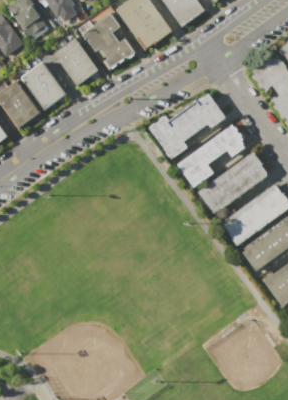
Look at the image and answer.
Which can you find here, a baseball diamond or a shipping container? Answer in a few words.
baseball diamond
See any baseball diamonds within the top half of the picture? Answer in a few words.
No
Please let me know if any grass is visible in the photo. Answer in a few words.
Yes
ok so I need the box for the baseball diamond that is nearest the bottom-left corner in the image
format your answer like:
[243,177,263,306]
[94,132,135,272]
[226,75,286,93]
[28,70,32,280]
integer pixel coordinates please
[26,322,146,400]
